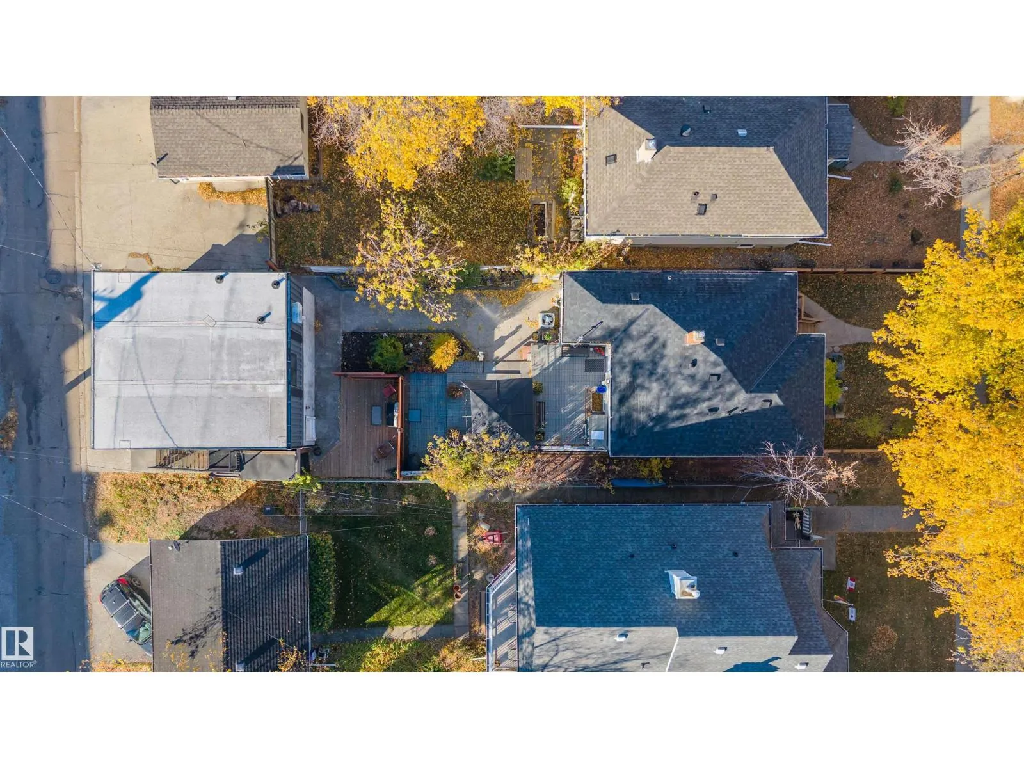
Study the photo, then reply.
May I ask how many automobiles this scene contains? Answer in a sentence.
Only 1 automobile is visible.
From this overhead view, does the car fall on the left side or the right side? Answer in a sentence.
It is on the left.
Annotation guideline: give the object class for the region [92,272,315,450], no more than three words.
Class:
building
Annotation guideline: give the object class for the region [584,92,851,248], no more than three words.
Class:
house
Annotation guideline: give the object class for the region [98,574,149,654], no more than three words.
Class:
car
